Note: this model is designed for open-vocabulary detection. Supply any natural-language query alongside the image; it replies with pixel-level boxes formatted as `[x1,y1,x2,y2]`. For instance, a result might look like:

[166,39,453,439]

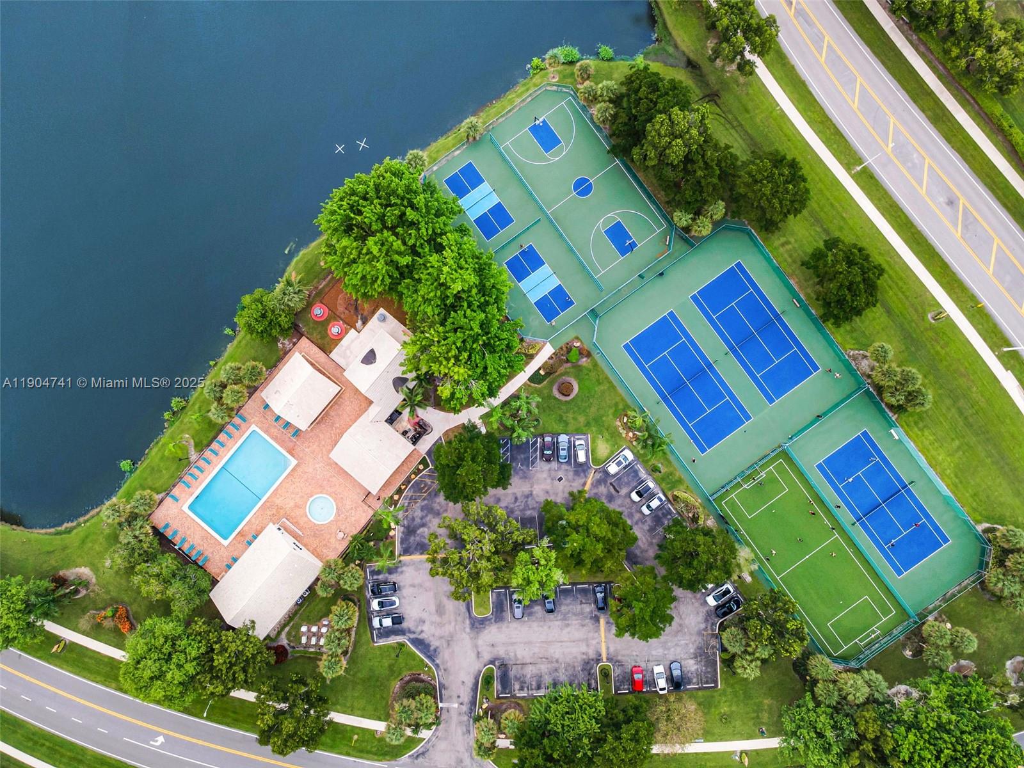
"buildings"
[330,330,421,495]
[261,352,348,431]
[210,522,323,640]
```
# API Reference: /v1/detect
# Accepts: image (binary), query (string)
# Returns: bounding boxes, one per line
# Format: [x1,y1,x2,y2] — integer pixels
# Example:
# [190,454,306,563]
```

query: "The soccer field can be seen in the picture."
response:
[715,448,909,659]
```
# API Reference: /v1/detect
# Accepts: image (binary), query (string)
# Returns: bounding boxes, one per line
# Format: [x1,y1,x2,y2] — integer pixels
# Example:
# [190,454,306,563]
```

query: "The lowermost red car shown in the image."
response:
[631,664,644,691]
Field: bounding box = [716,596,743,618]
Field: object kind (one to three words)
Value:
car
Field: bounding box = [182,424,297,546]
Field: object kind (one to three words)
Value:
swimming pool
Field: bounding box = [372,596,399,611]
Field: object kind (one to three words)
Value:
car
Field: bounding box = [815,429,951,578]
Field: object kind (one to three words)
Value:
tennis court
